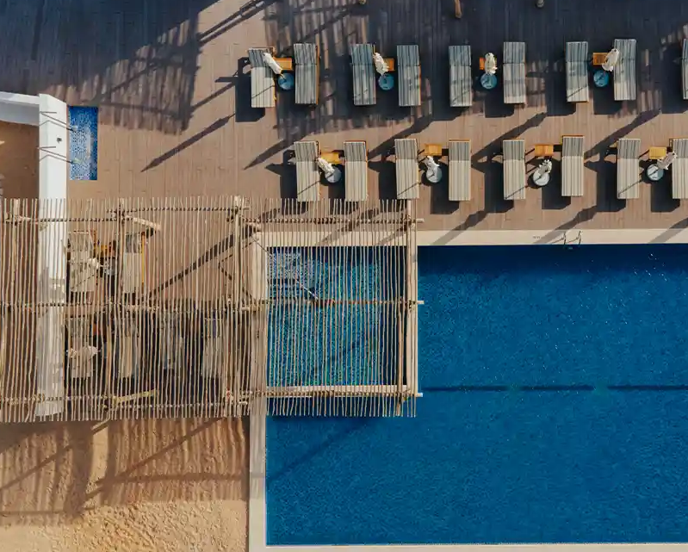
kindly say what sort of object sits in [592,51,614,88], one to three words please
umbrella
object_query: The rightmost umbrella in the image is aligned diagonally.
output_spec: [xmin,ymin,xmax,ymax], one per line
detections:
[646,154,674,182]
